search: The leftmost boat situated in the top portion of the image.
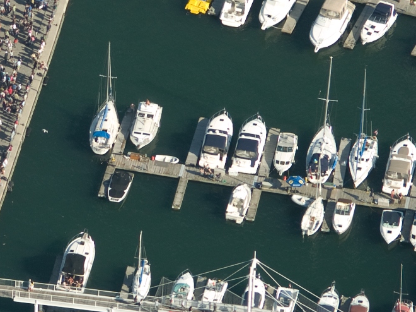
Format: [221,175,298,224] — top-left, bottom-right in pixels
[90,44,120,158]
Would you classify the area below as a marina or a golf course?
marina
